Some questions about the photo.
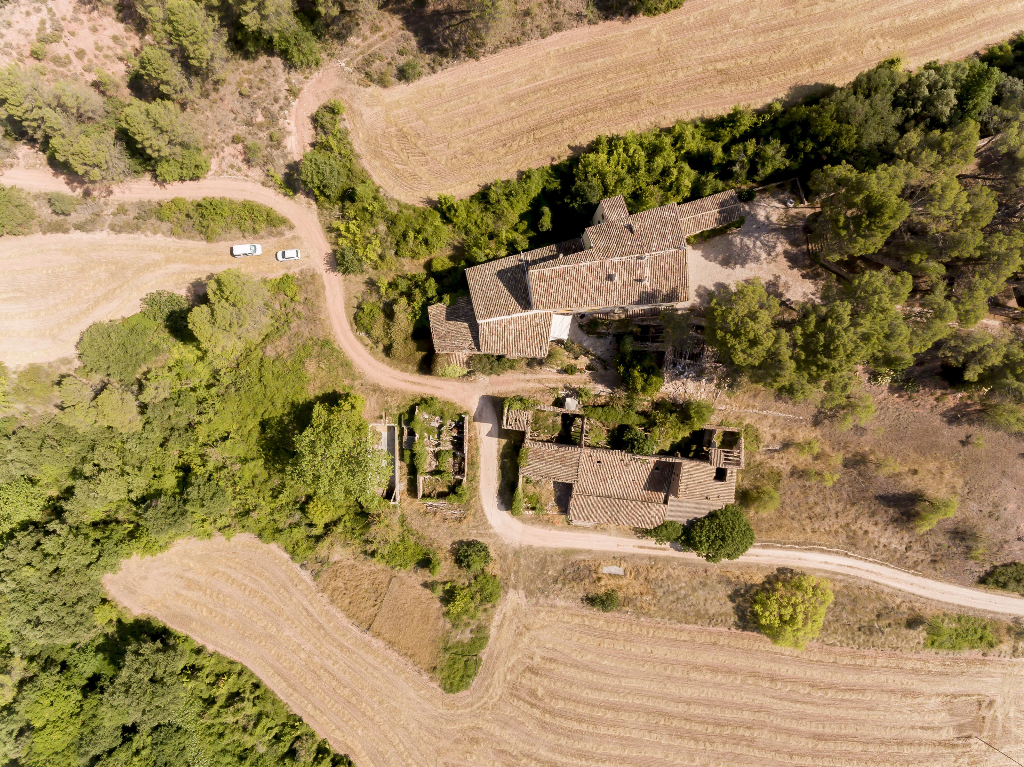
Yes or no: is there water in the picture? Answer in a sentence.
No, the picture contains no water.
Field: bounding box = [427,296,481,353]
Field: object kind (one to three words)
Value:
shed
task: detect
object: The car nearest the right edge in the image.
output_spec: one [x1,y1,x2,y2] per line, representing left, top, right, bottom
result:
[276,248,300,260]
